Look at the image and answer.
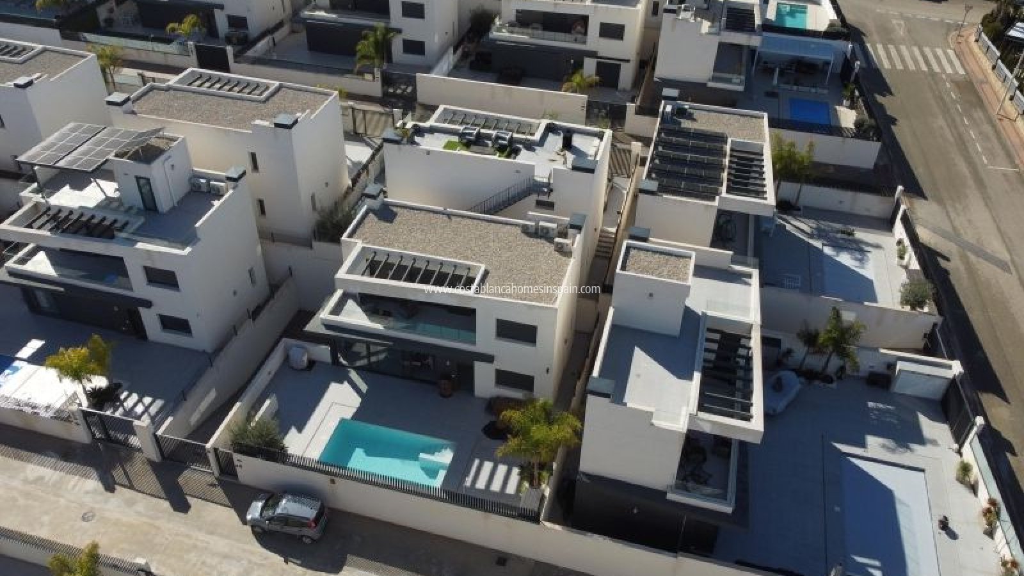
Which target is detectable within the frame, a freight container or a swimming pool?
swimming pool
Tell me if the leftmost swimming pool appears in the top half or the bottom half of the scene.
bottom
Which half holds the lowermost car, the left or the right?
left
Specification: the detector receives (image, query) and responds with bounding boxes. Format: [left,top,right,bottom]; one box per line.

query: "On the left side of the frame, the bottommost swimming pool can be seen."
[311,412,466,492]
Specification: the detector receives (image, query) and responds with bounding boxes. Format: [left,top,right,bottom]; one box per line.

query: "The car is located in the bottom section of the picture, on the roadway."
[246,488,337,545]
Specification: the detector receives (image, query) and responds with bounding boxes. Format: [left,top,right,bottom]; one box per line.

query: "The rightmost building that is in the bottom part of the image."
[572,236,763,556]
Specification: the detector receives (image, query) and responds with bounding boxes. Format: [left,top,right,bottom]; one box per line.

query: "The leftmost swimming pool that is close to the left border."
[0,357,46,405]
